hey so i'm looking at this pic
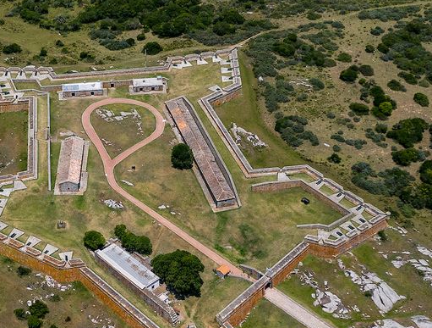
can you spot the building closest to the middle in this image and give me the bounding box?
[165,98,236,207]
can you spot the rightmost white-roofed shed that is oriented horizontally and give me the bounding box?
[131,77,165,92]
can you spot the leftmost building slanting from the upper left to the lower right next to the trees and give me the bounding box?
[96,243,157,290]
